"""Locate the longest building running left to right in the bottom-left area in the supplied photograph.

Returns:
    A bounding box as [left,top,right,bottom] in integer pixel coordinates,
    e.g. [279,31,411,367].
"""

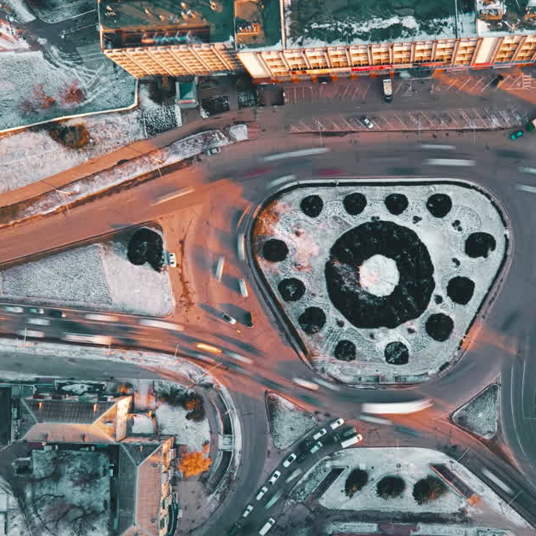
[22,394,138,443]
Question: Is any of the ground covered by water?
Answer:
No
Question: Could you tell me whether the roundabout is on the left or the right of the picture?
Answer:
right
